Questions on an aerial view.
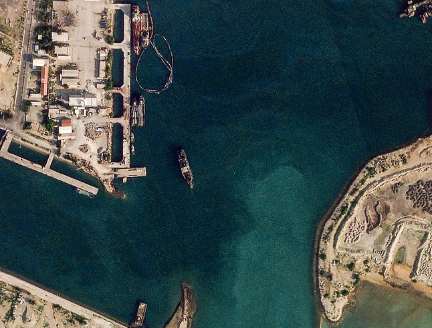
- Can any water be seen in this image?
Yes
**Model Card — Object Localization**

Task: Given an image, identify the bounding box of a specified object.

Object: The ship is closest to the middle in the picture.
[176,148,191,187]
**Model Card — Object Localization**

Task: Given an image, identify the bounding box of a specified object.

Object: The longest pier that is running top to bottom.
[112,3,132,170]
